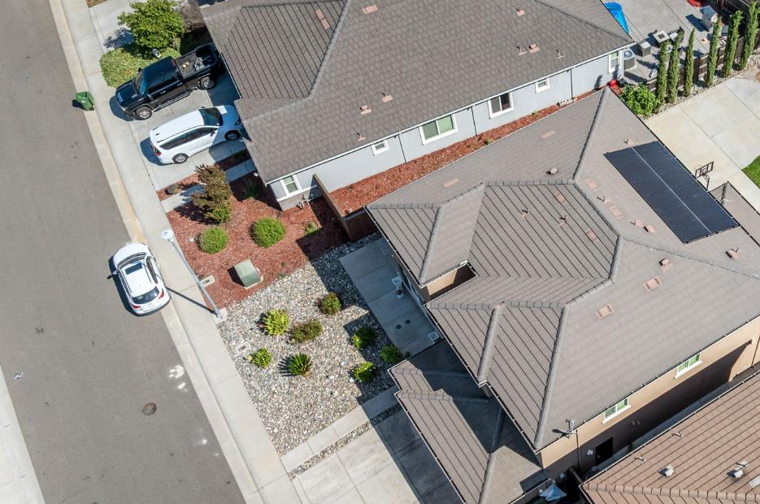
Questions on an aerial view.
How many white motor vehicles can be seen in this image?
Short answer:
2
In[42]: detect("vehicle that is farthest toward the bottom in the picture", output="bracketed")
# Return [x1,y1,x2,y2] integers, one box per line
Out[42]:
[114,245,176,325]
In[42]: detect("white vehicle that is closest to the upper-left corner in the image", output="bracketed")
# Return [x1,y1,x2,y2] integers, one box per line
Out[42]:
[141,104,244,164]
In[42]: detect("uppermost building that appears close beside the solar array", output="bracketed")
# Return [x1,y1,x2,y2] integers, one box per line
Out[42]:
[199,0,636,210]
